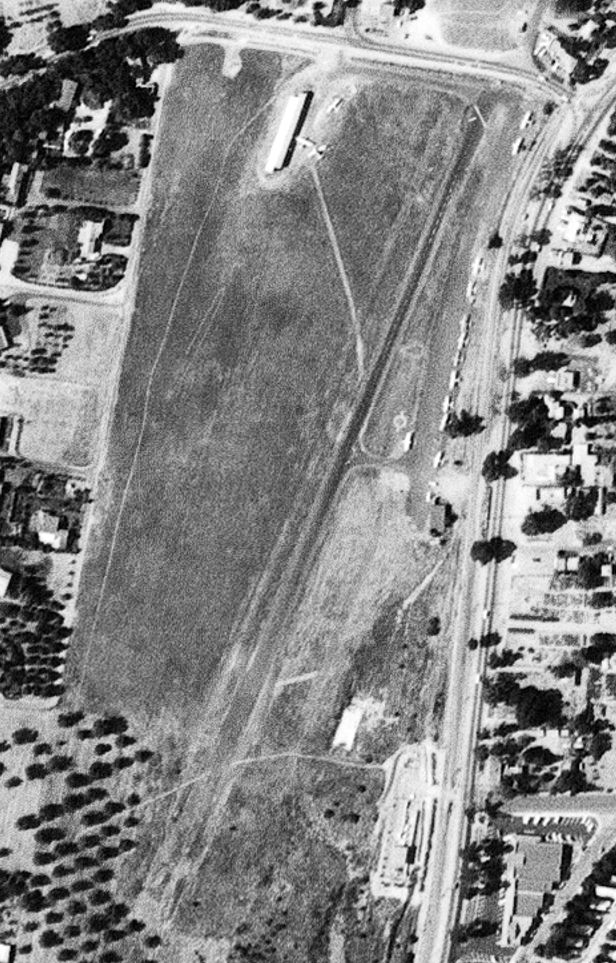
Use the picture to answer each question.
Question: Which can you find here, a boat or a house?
house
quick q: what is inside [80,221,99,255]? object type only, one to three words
house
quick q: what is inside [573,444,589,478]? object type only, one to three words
building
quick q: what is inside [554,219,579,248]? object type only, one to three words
house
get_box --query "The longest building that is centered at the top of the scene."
[266,91,306,171]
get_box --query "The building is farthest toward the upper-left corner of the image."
[56,79,76,110]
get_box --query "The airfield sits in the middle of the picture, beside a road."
[66,43,542,921]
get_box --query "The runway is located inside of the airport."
[202,102,482,831]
